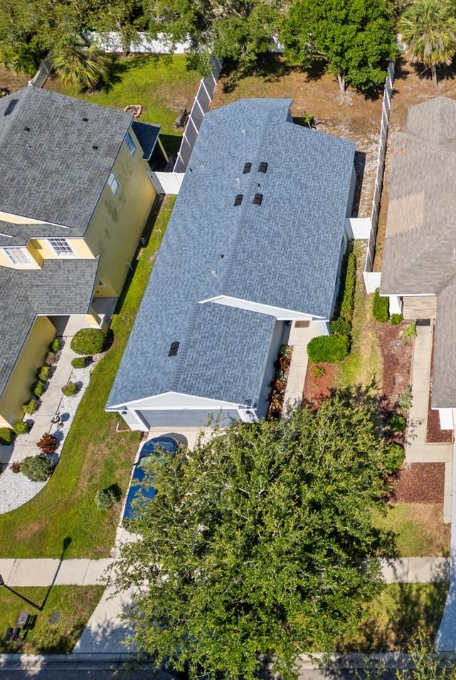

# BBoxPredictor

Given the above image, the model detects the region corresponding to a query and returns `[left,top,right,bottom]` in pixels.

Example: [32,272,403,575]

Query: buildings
[376,97,456,427]
[0,89,175,429]
[106,97,357,427]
